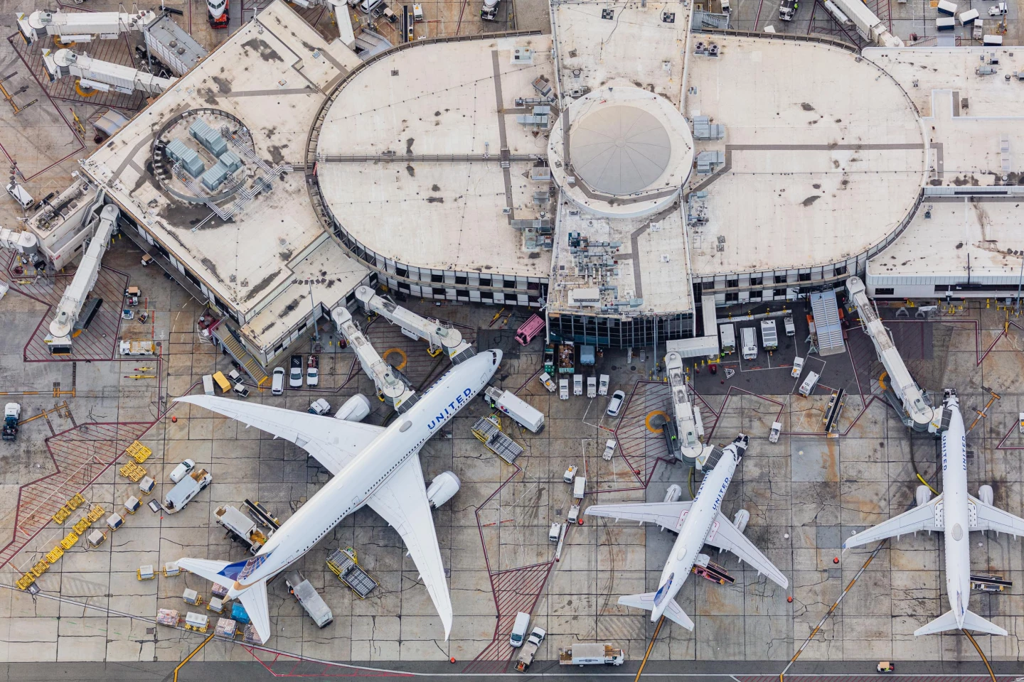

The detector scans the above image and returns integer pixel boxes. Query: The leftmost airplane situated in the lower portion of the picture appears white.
[172,346,503,645]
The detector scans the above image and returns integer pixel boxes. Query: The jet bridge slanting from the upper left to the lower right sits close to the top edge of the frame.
[814,0,908,45]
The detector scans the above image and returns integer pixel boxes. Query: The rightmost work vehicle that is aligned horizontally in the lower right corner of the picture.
[972,577,1013,591]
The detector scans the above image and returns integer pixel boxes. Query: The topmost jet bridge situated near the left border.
[9,9,160,53]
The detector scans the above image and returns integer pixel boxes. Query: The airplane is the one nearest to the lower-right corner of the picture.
[846,390,1024,633]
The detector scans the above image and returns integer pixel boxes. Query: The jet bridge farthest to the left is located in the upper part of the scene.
[0,228,39,264]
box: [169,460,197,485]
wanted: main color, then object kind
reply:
white vehicle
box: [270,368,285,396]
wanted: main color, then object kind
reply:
white car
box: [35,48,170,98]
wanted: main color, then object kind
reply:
white jet bridge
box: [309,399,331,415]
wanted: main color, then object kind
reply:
white work vehicle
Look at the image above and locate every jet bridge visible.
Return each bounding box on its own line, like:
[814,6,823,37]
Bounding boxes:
[9,9,160,53]
[656,350,724,475]
[843,278,951,435]
[287,0,348,14]
[39,205,121,361]
[355,286,480,362]
[332,308,420,414]
[35,48,170,98]
[814,0,908,45]
[0,228,39,264]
